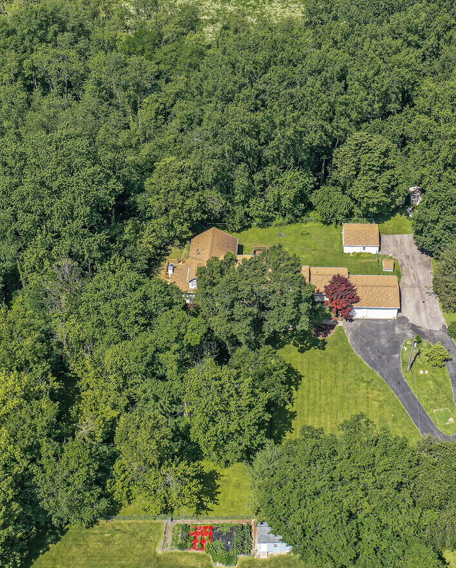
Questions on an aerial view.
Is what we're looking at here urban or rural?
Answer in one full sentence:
The area shown here is rural.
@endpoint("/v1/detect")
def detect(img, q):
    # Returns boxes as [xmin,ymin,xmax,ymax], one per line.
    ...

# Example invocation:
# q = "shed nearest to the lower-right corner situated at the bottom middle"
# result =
[257,523,293,559]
